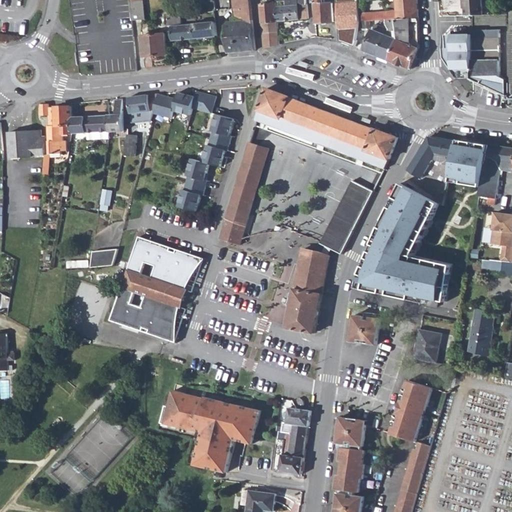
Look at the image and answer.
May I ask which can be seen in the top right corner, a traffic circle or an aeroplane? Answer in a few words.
traffic circle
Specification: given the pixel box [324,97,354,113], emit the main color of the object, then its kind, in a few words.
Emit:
white vehicle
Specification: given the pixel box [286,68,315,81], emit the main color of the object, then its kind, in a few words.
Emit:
white vehicle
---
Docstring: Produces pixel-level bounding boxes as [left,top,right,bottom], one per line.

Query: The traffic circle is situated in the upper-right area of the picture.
[396,71,455,130]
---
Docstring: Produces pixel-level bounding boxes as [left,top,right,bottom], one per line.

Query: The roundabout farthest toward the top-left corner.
[2,49,50,97]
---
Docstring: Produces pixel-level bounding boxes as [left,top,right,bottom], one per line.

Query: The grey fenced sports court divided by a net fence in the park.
[45,413,135,500]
